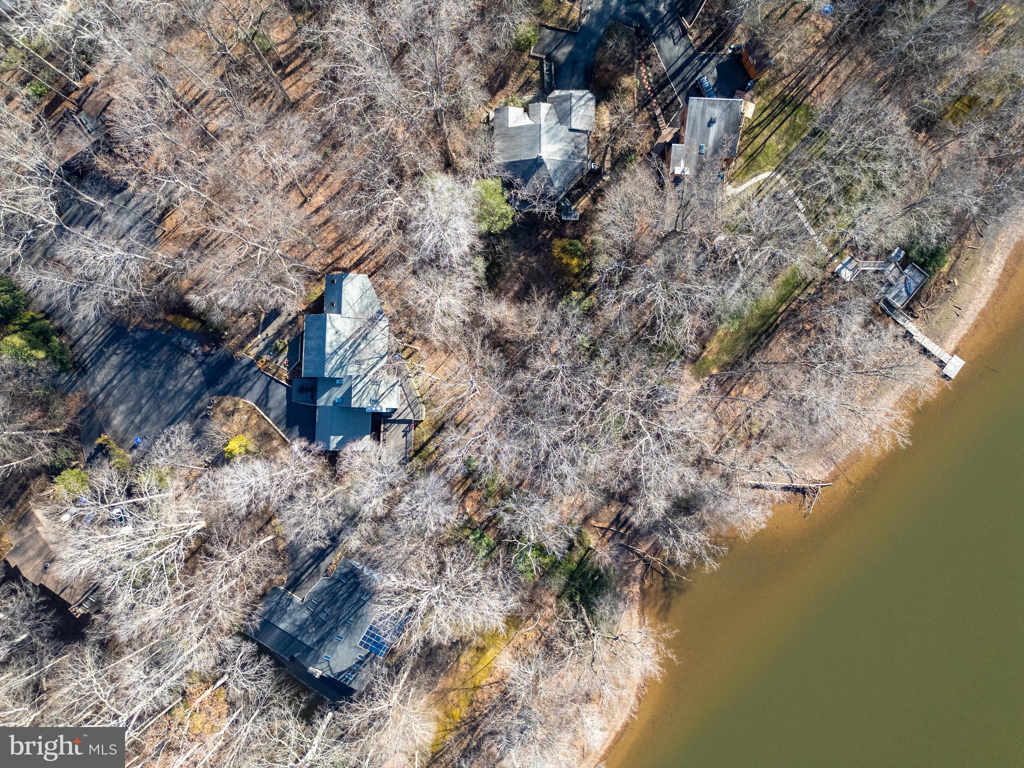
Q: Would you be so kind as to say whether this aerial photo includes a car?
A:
Yes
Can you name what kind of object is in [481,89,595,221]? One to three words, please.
house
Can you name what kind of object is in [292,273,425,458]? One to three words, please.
house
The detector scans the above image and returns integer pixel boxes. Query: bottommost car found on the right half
[695,70,720,97]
